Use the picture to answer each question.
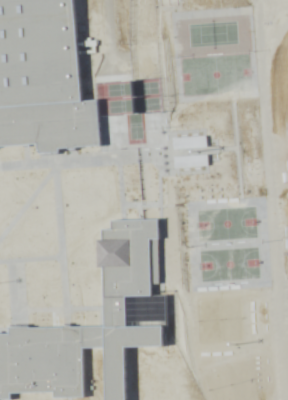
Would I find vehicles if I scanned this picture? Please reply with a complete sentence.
No, no vehicle is visible in the scene.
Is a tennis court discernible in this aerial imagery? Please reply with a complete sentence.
Yes, the photo shows a tennis court.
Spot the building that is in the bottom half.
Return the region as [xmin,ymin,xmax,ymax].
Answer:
[0,219,164,400]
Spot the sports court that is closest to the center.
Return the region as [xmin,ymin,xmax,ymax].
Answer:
[128,114,146,145]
